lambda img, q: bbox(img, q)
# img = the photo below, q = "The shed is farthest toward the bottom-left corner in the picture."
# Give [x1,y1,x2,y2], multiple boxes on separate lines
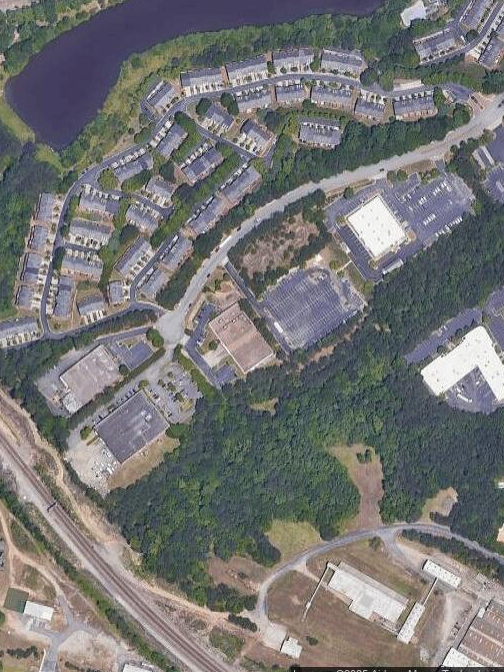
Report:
[23,599,54,622]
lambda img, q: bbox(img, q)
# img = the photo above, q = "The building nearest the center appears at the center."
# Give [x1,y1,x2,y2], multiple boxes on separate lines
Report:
[210,302,275,373]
